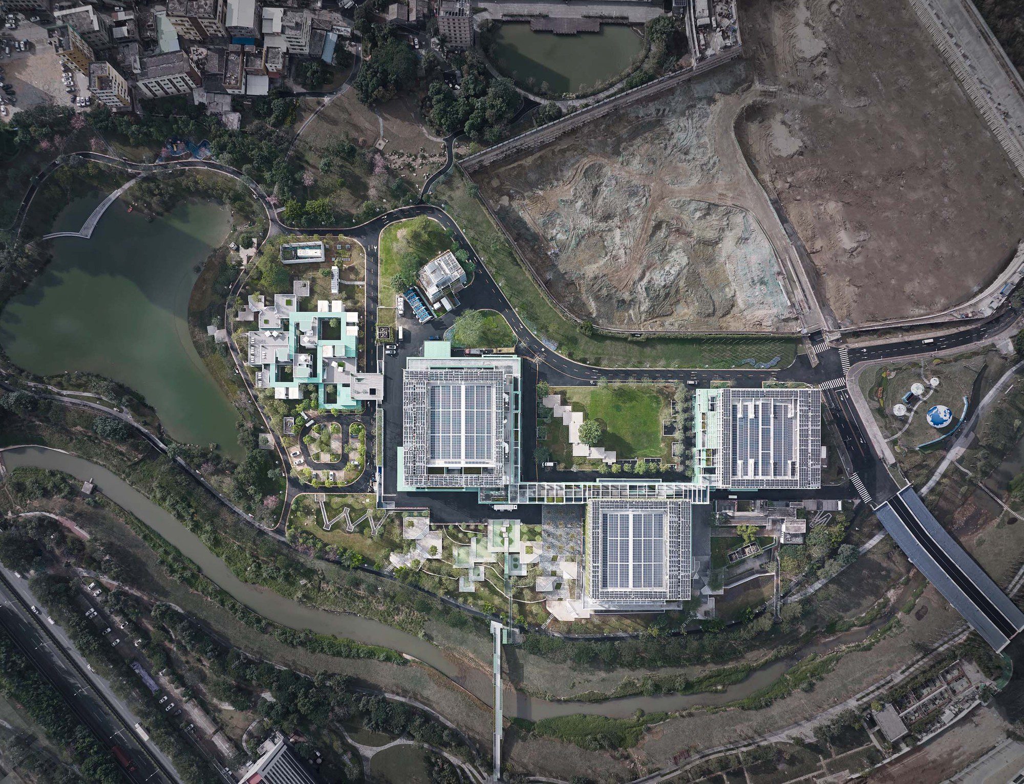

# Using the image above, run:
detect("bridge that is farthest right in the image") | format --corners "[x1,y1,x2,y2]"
[872,484,1024,656]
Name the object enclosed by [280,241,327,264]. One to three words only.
building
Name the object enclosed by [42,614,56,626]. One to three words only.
vehicle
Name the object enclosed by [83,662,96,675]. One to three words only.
vehicle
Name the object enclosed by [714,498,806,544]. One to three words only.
house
